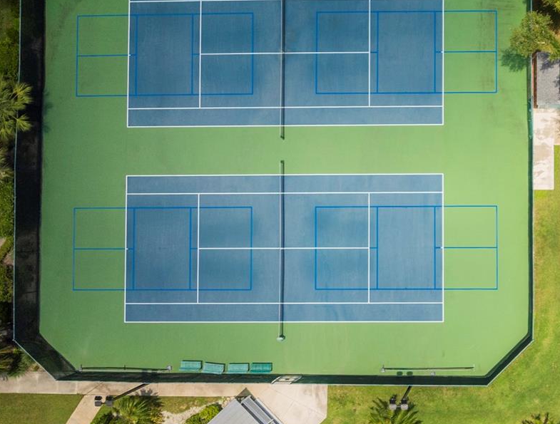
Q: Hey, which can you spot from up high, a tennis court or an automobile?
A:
tennis court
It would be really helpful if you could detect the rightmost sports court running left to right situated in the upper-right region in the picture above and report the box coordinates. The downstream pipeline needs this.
[317,10,498,94]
